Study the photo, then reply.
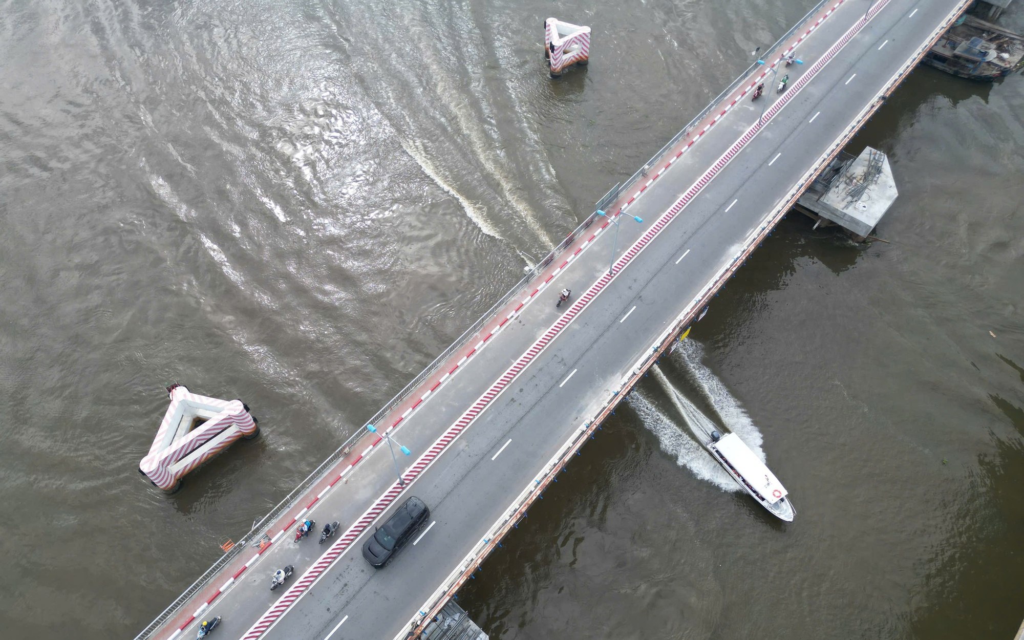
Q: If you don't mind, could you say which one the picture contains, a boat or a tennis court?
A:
boat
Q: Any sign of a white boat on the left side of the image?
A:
No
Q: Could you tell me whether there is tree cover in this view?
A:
No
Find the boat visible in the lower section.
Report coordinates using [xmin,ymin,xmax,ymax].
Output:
[707,430,799,524]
